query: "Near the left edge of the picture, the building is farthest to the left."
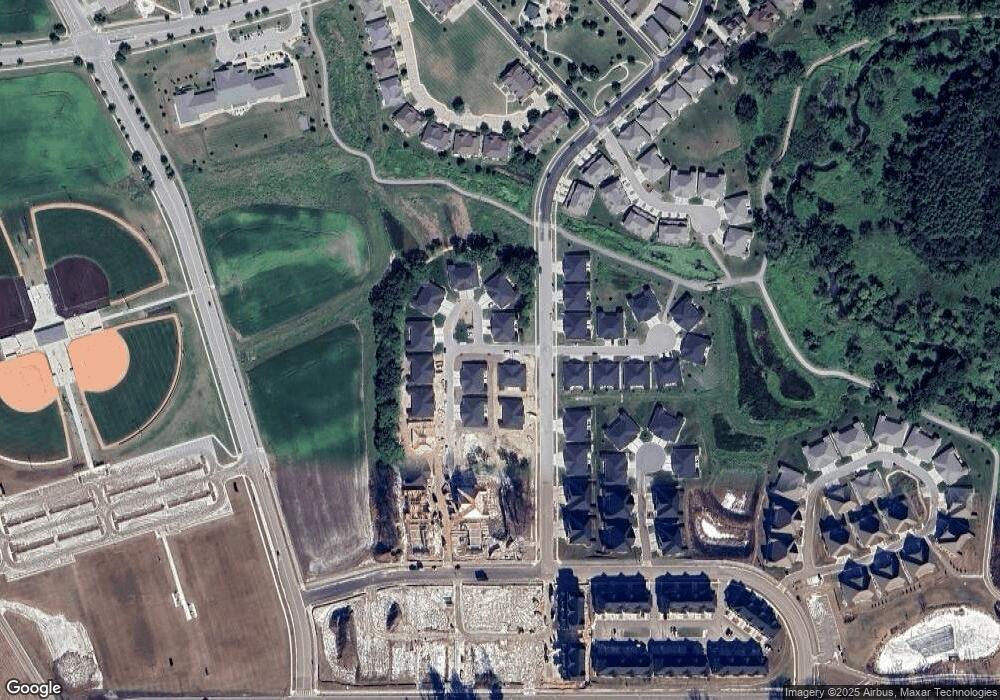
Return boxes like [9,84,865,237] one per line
[33,321,68,347]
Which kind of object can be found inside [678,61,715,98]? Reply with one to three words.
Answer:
house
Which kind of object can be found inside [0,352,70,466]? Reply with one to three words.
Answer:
baseball field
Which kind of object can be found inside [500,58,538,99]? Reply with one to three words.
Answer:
building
